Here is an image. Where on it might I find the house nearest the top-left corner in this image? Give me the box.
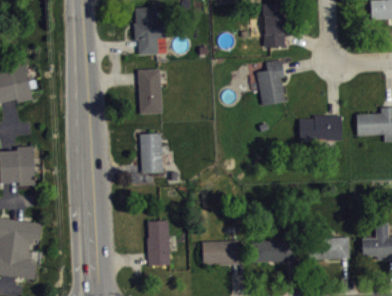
[0,64,34,106]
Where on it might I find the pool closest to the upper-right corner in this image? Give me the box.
[216,32,234,50]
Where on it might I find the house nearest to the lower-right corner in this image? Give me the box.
[362,222,392,261]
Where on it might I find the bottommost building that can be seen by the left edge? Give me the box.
[0,216,42,280]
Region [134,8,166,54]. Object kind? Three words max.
house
